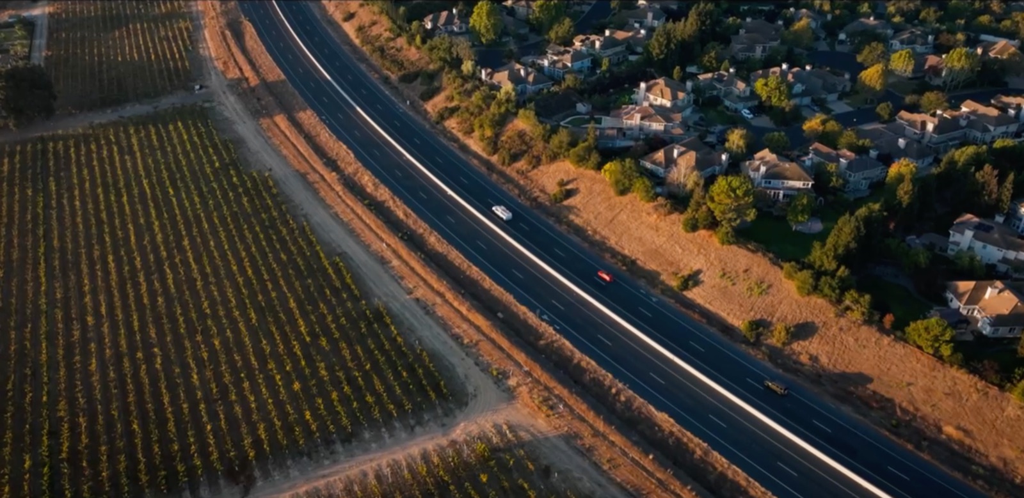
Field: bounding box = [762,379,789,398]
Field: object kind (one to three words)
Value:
car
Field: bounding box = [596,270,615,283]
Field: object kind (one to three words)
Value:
vehicle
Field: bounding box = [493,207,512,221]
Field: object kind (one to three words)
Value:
car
